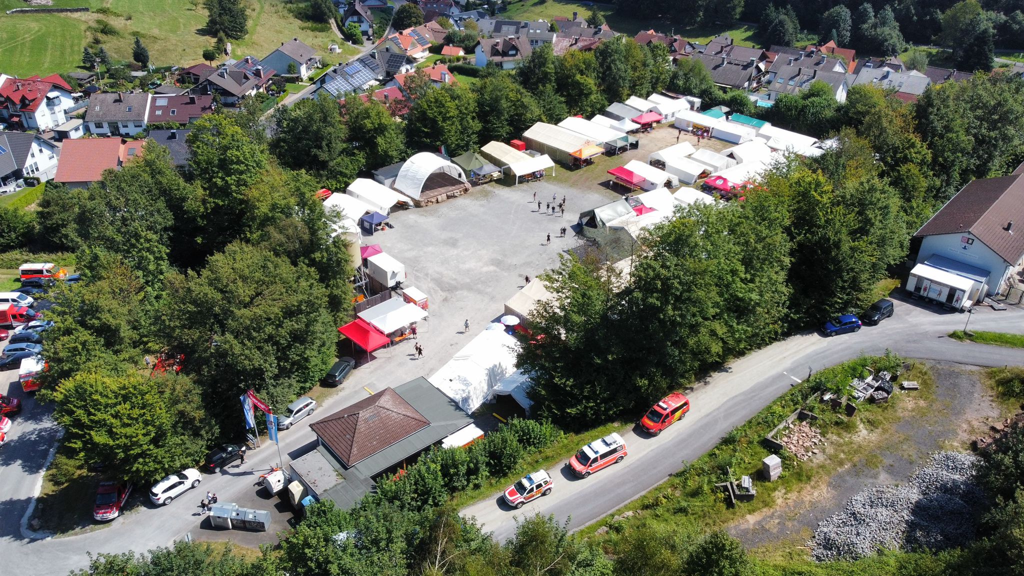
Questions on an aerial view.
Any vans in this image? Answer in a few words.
Yes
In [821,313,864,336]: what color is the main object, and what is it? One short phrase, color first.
blue car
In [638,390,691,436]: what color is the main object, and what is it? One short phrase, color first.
red van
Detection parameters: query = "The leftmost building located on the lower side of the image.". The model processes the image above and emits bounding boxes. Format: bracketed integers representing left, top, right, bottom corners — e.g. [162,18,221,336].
[288,379,478,516]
